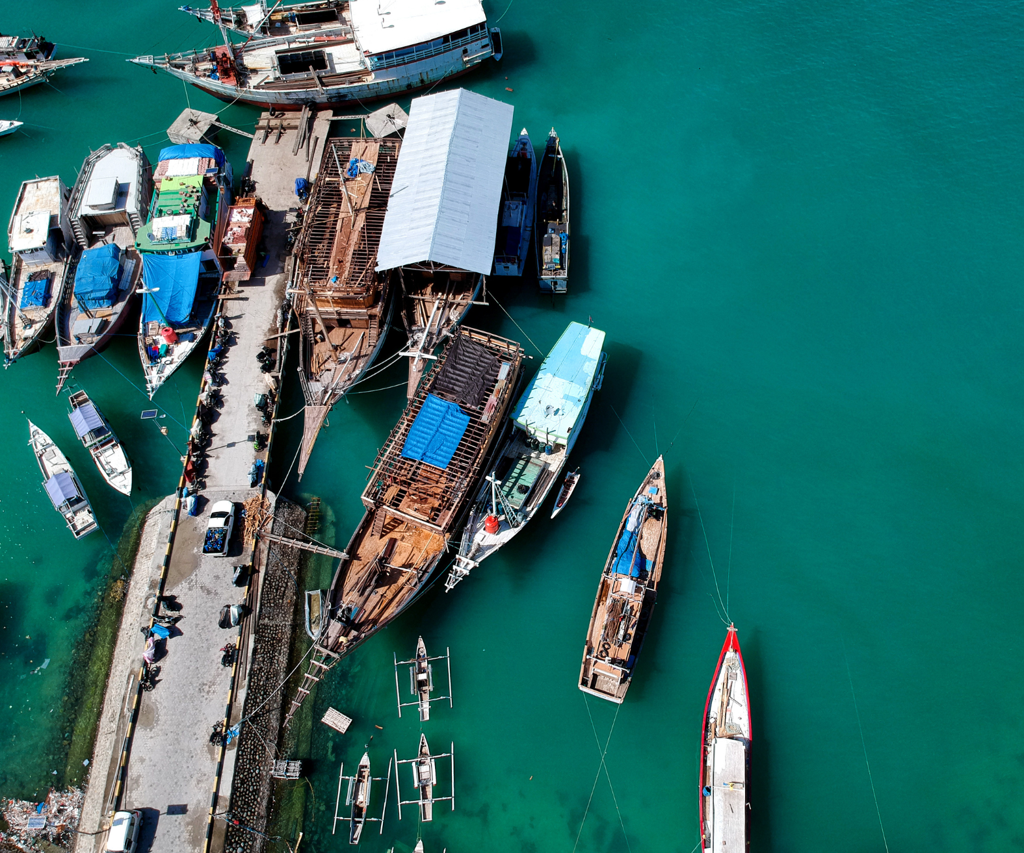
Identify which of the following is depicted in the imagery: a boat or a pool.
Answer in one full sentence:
Of the two, only a boat appears.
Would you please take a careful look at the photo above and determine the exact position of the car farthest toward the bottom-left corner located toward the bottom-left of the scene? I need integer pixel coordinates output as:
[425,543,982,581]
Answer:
[105,814,140,853]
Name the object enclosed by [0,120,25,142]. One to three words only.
boat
